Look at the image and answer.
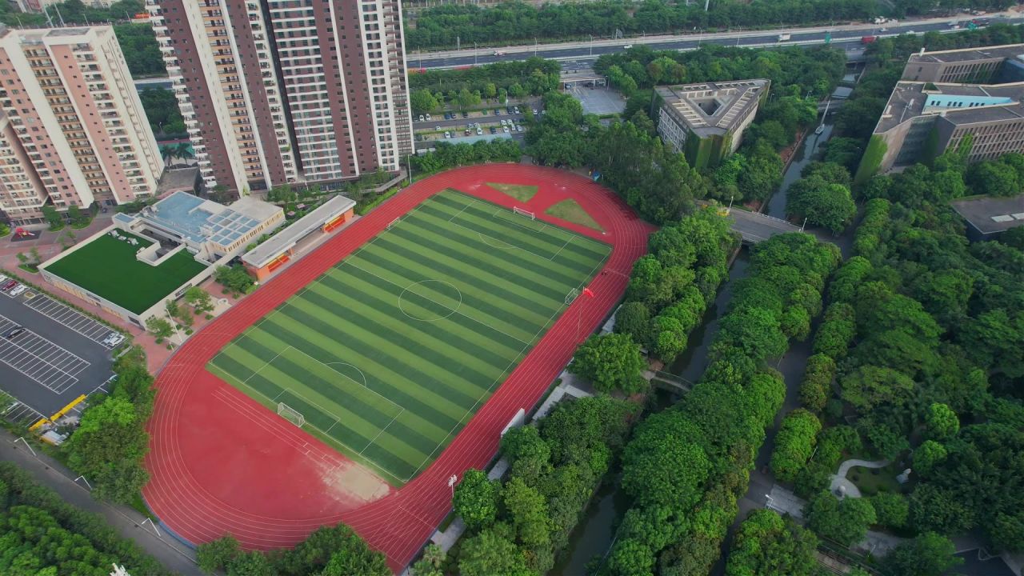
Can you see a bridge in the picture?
Yes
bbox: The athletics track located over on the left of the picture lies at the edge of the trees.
[137,161,653,576]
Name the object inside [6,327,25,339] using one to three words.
vehicle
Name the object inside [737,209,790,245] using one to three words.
bridge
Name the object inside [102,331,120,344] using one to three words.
vehicle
